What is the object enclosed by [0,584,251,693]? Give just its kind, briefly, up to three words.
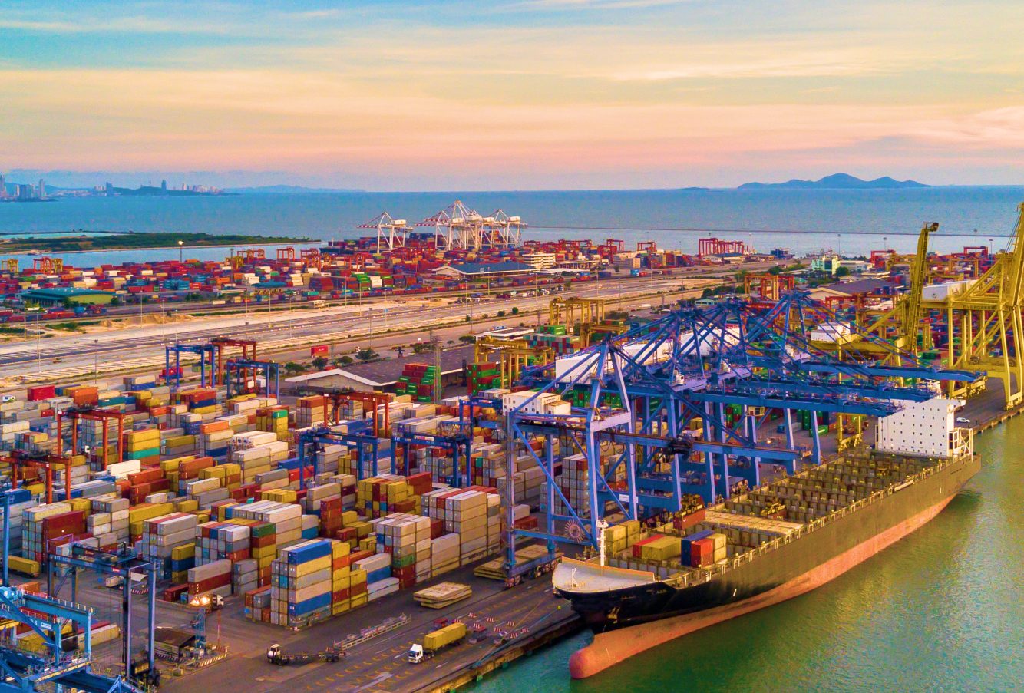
container crane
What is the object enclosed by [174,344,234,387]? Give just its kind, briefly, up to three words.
container crane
